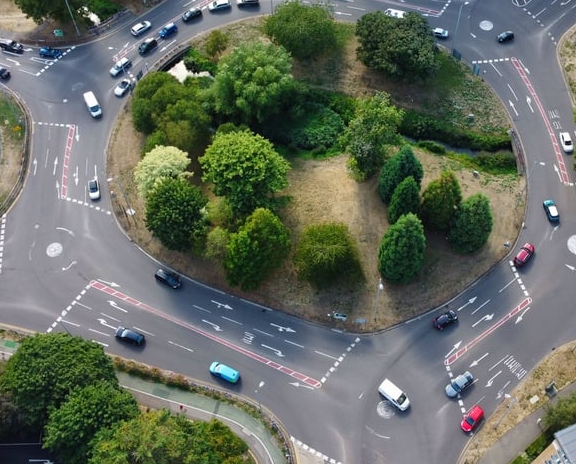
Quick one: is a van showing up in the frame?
Yes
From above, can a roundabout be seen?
Yes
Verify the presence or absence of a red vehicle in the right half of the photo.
Yes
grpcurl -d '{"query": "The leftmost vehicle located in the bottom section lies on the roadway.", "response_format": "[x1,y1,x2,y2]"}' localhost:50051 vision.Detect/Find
[114,327,148,348]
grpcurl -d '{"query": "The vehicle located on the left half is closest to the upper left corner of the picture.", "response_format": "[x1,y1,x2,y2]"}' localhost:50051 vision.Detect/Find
[0,39,25,54]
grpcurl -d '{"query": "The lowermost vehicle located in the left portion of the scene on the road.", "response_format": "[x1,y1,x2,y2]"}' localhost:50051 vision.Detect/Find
[208,362,241,384]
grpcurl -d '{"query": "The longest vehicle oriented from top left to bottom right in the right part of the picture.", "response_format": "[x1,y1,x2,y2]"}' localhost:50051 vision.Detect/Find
[374,374,413,414]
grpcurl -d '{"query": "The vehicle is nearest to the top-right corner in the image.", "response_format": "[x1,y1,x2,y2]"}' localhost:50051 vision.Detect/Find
[494,29,516,44]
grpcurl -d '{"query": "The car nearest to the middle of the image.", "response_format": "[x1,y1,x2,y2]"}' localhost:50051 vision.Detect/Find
[152,268,185,290]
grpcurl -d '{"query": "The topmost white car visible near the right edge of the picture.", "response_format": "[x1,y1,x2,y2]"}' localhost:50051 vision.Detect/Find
[558,132,574,153]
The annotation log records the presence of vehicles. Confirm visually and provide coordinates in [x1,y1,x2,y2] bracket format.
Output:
[38,46,62,58]
[108,57,134,76]
[0,39,25,54]
[558,132,574,153]
[0,64,14,78]
[428,26,450,39]
[114,327,148,348]
[374,374,413,414]
[431,309,460,330]
[207,0,232,12]
[543,199,560,223]
[514,243,536,268]
[152,268,185,290]
[82,88,103,118]
[111,76,135,97]
[208,362,241,384]
[182,6,203,21]
[443,370,475,397]
[494,29,516,44]
[158,22,180,38]
[236,0,260,7]
[87,177,102,201]
[457,401,488,434]
[130,21,152,35]
[136,35,161,54]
